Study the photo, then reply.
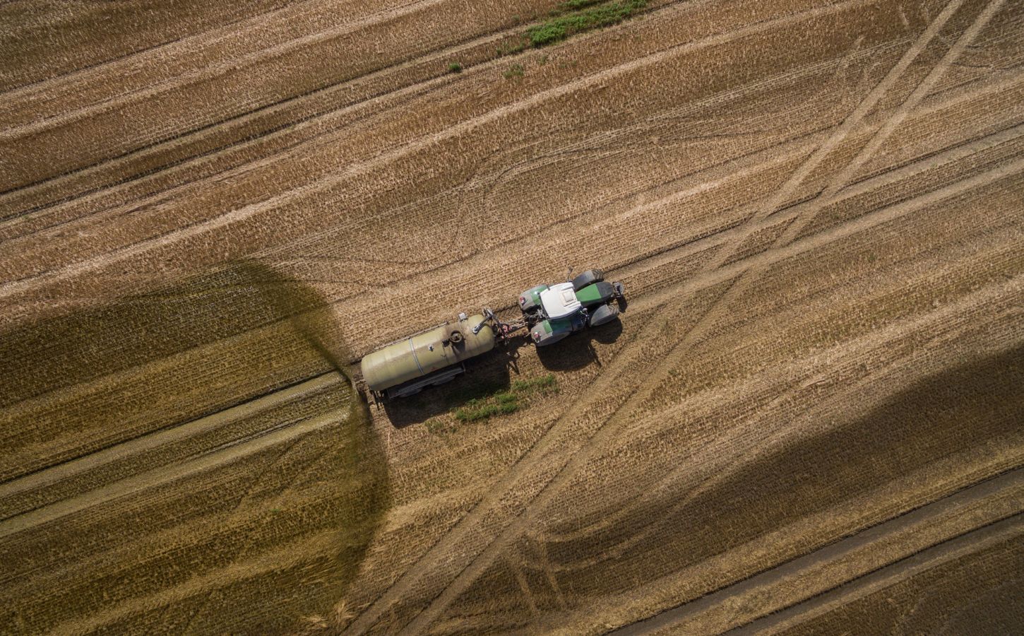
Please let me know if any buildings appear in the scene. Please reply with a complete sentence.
No, there isn't any building down there.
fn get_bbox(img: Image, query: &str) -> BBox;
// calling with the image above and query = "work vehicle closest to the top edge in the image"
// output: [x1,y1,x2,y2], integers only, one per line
[516,268,622,348]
